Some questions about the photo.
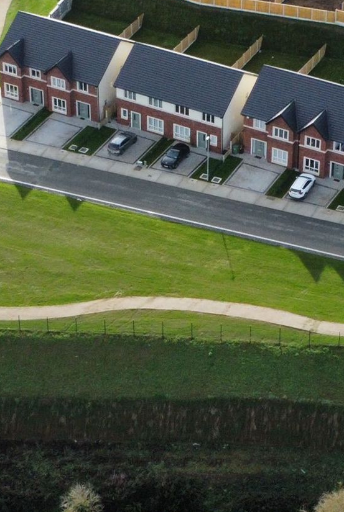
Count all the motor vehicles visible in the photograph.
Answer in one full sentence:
In total, 3 motor vehicles can be seen.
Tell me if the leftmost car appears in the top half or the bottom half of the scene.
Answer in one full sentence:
The leftmost car sits in the top half of the picture.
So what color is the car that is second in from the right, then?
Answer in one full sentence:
From above, the car that is second in from the right appears black.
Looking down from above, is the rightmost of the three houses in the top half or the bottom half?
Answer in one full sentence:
The rightmost of the three houses sits in the top half of the picture.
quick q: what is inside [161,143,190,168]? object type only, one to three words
car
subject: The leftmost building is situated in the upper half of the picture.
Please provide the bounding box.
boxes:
[0,10,135,121]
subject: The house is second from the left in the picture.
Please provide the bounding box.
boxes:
[112,40,260,155]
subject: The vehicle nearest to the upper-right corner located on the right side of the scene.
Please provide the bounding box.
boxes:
[290,172,320,198]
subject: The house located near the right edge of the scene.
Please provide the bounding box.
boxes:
[240,66,344,184]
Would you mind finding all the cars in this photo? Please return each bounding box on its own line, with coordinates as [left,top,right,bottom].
[107,128,138,155]
[161,143,190,168]
[290,172,320,198]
